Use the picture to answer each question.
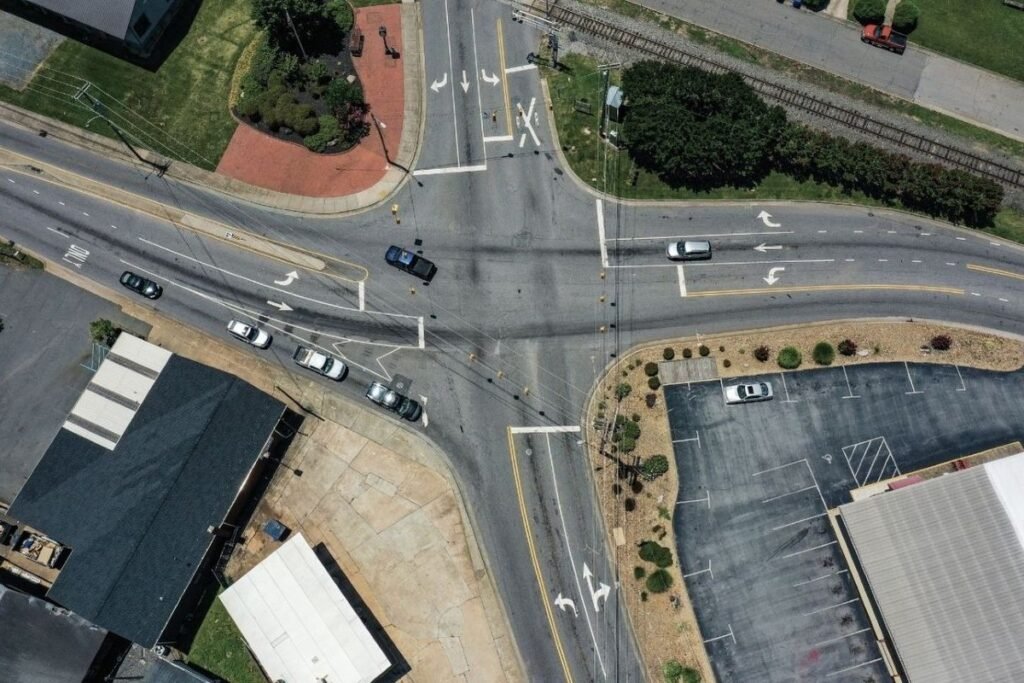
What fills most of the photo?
paved ground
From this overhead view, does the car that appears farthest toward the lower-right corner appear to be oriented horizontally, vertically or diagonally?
horizontally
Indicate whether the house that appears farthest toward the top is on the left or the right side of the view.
left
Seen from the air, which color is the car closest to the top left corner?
black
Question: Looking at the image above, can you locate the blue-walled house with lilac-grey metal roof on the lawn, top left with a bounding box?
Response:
[29,0,202,74]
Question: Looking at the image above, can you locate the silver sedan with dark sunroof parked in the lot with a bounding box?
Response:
[726,380,776,403]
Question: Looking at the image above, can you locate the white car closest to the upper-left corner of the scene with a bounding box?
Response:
[224,317,270,347]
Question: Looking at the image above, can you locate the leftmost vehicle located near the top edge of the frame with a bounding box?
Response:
[862,22,912,49]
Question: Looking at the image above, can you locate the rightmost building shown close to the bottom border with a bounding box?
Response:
[833,452,1024,683]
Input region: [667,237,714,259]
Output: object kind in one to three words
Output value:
car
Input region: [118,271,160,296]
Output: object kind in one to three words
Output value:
car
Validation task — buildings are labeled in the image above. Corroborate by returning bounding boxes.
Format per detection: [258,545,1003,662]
[143,656,214,683]
[219,533,398,683]
[4,331,291,650]
[608,87,623,120]
[29,0,202,74]
[833,452,1024,683]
